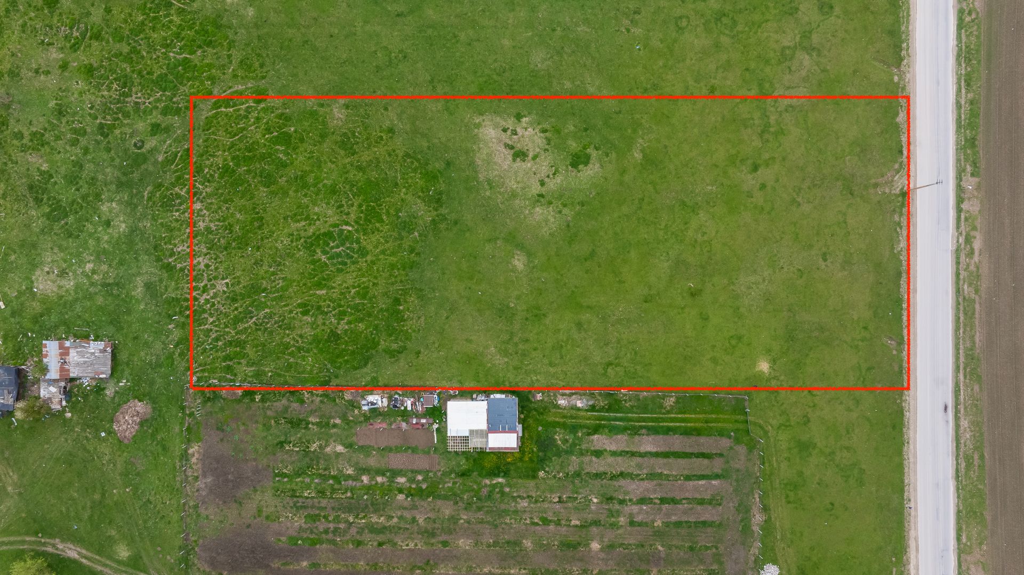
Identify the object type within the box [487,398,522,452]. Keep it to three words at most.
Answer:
house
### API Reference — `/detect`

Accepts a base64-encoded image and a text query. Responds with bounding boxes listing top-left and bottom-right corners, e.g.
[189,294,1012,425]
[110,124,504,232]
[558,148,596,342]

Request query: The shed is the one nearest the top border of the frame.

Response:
[41,341,114,379]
